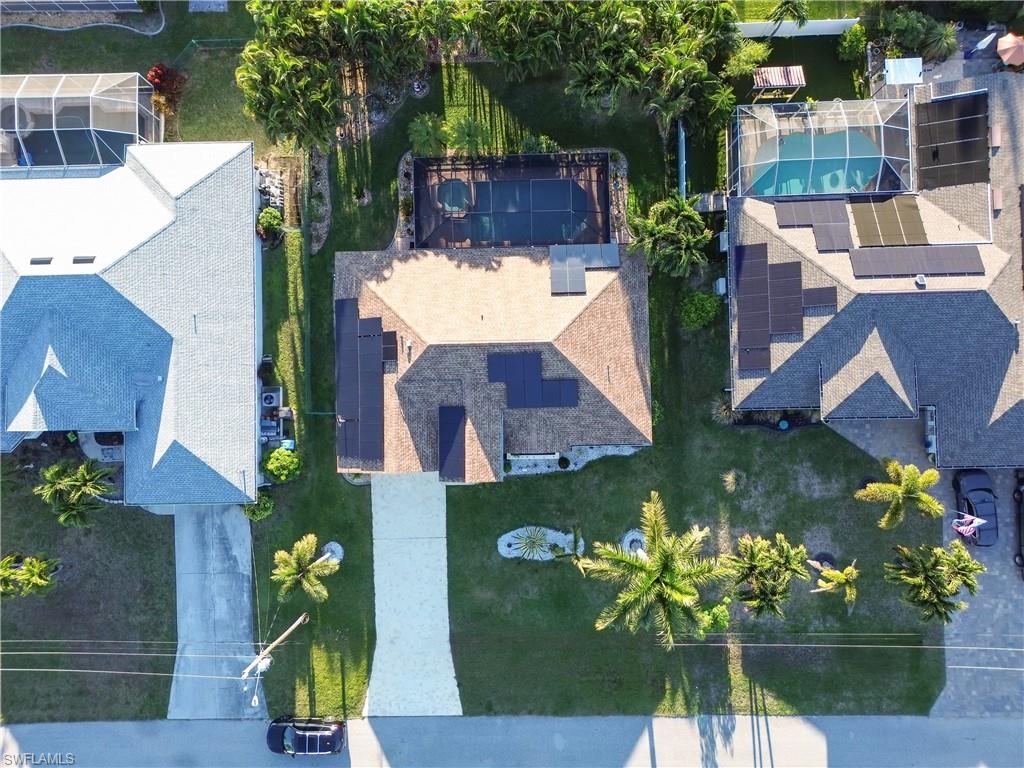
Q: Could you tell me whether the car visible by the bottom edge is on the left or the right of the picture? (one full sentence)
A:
It is on the left.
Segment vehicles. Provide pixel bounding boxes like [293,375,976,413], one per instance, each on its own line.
[952,469,999,548]
[267,716,348,758]
[1012,478,1024,571]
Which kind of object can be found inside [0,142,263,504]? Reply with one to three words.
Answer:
house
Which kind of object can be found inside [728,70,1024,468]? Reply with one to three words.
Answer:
house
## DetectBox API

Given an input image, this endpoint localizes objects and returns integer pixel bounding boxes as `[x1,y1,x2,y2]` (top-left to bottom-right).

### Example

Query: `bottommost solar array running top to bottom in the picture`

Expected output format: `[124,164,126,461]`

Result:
[439,406,464,481]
